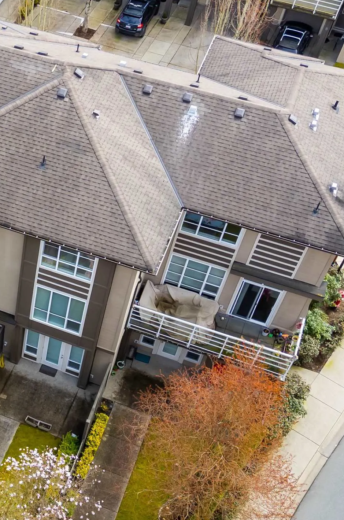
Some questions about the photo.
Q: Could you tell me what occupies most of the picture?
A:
buildings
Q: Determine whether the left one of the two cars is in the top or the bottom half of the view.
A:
top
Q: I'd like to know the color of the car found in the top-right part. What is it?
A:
black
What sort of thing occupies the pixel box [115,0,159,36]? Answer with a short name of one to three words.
car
